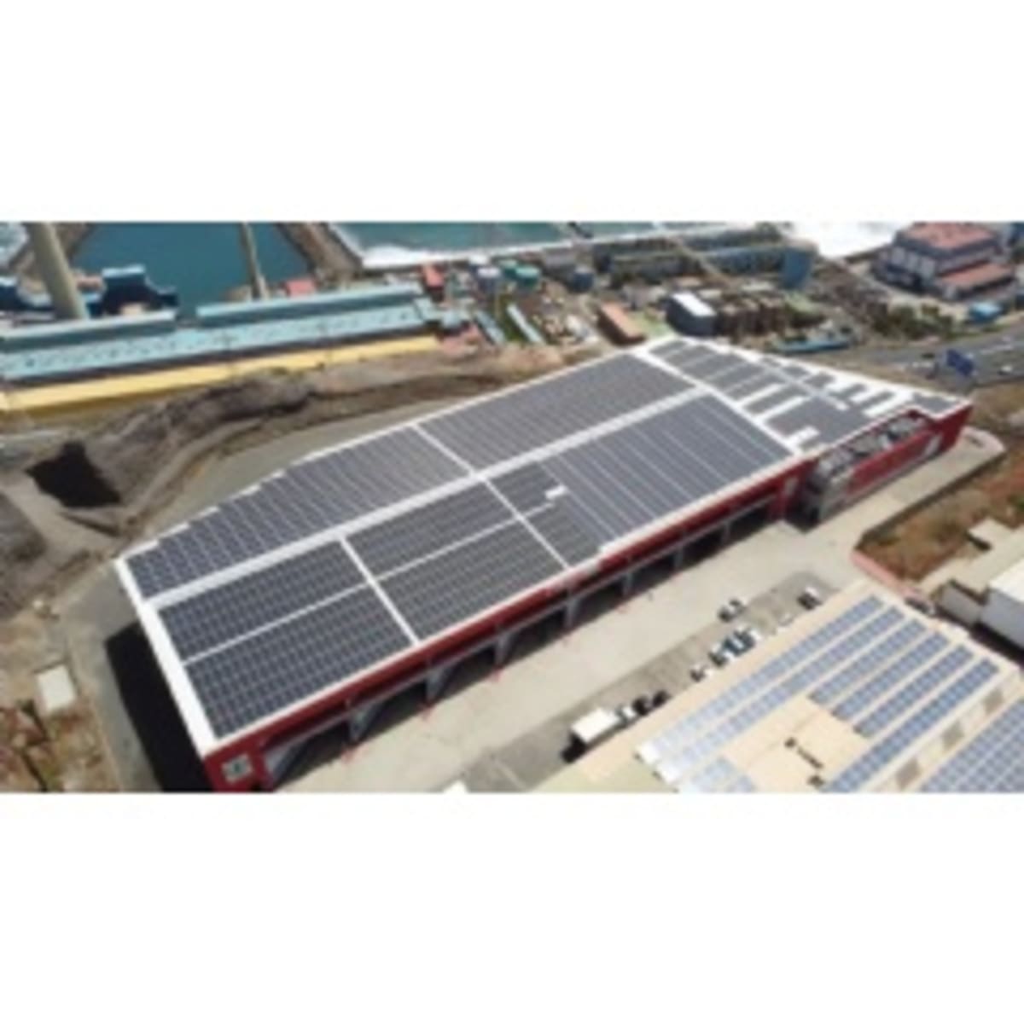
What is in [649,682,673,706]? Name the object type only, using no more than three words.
car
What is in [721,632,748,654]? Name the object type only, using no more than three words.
car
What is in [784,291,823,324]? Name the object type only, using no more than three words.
shed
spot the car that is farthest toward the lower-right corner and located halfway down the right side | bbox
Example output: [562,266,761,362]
[912,596,940,615]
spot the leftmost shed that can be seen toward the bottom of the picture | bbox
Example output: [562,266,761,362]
[37,666,80,720]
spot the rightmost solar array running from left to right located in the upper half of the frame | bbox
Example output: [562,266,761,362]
[915,392,957,410]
